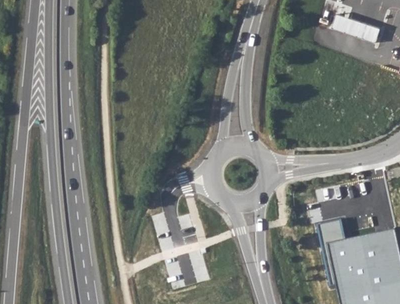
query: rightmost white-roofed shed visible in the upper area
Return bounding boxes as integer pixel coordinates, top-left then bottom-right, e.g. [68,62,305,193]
[330,16,380,44]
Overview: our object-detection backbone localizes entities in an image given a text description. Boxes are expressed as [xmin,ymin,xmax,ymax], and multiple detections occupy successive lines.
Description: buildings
[330,16,380,44]
[314,214,400,304]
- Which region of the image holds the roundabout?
center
